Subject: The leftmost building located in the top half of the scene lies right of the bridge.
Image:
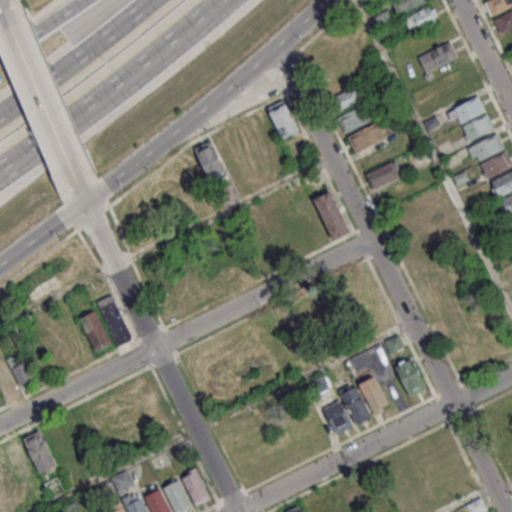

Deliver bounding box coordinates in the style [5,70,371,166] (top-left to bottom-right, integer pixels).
[197,138,228,177]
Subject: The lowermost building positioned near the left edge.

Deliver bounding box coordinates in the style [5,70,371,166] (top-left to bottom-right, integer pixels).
[22,429,56,472]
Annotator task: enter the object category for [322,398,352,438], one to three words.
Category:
house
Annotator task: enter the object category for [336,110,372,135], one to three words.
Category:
house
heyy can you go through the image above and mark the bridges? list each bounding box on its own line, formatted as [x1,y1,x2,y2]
[0,0,99,200]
